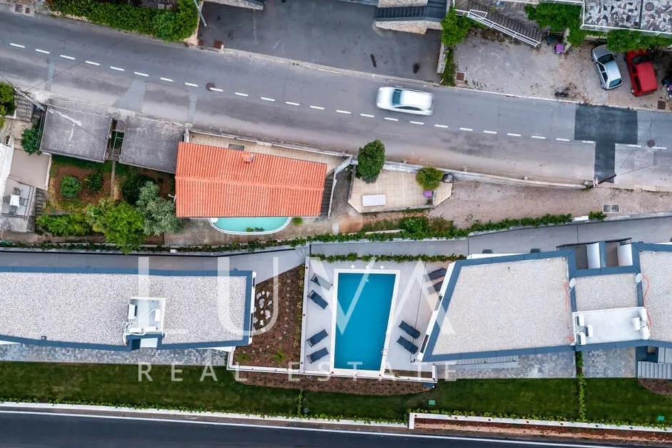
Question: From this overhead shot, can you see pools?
Yes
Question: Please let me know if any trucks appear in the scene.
No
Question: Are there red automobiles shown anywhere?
Yes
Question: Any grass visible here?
Yes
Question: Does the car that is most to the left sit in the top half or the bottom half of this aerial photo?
top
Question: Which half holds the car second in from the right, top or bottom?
top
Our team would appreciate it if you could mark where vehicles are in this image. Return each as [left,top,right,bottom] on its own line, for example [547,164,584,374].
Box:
[377,83,435,114]
[627,47,662,98]
[592,44,629,92]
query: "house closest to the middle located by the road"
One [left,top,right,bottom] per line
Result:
[175,142,327,218]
